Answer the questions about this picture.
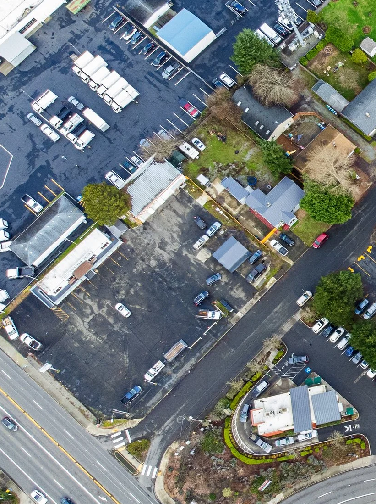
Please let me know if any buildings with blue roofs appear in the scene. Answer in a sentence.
Yes, I can see a building with a blue roof in this picture.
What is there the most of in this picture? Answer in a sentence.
The largest share of the image is taken up by paved ground.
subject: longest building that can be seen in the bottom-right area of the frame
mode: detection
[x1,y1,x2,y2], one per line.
[251,385,346,438]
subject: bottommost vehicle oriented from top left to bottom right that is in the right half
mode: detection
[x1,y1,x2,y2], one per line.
[251,433,272,452]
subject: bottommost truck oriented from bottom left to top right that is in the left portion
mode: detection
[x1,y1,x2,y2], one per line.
[121,385,142,407]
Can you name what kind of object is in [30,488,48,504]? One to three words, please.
car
